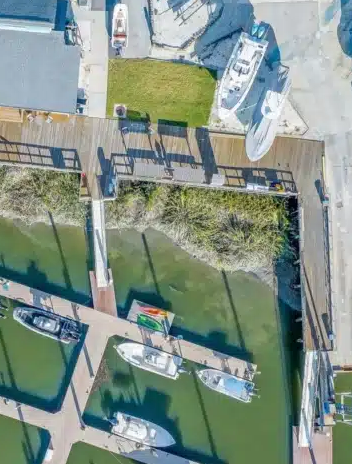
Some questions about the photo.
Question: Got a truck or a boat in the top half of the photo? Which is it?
boat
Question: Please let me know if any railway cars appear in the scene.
No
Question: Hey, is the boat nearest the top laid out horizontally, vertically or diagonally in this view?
vertically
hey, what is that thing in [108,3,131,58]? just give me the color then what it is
white boat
